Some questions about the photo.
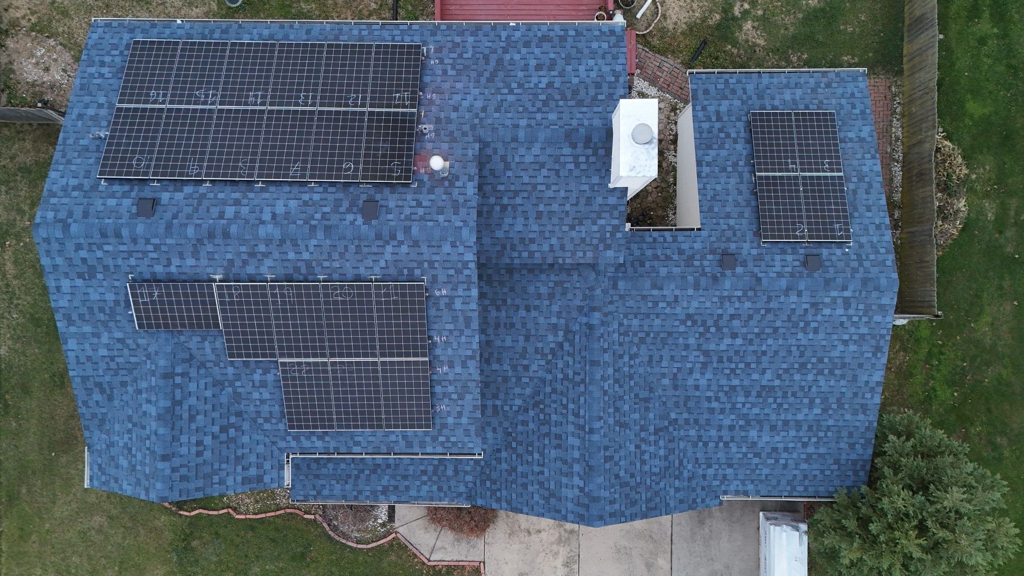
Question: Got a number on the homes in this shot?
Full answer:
The count comes to 1 home.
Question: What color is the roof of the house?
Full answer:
The roof of the house is blue.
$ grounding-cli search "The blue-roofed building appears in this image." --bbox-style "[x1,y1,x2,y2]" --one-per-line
[32,18,899,528]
